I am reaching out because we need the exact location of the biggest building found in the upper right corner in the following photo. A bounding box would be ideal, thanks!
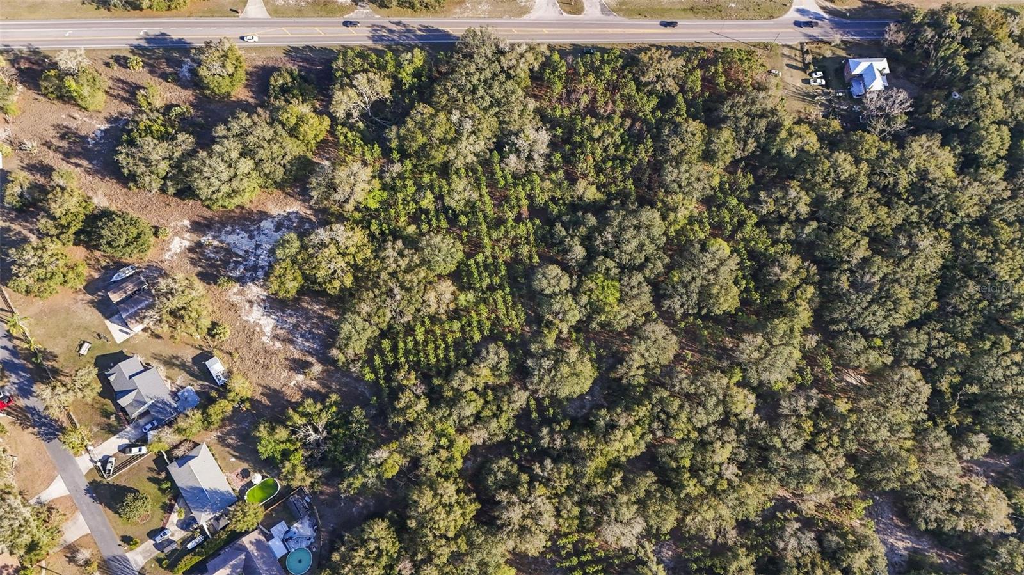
[846,58,890,95]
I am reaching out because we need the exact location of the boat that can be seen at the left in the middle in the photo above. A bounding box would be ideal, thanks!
[110,265,136,280]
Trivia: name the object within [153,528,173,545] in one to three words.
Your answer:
car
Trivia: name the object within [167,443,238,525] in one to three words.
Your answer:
house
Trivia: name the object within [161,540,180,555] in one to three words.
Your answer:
car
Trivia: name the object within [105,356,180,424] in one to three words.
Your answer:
house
